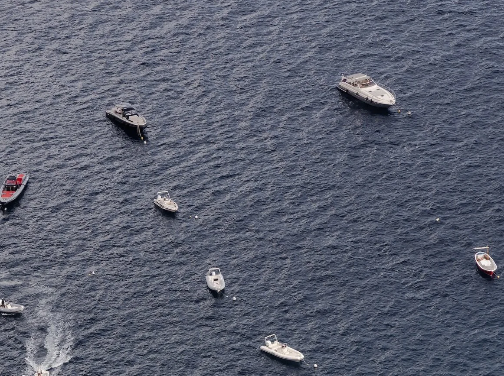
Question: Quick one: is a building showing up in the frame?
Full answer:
No, there isn't any building down there.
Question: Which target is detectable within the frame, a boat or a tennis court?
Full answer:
The image shows a boat.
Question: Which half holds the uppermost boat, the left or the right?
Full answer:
It is on the right.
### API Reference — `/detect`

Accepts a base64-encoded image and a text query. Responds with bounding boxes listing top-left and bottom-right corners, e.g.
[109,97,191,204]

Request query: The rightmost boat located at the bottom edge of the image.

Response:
[258,335,307,364]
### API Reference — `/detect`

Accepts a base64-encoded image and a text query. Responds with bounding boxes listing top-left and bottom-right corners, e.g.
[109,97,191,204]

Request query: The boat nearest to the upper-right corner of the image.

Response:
[340,73,396,109]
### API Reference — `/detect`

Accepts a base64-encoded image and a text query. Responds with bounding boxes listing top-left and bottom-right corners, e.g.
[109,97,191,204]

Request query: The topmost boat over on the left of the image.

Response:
[106,102,145,137]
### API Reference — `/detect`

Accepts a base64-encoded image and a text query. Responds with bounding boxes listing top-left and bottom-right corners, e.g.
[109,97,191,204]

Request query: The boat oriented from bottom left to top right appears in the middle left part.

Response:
[0,172,30,207]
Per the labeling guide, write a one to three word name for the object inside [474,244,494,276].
boat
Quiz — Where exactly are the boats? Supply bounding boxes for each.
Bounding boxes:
[340,73,396,109]
[106,102,145,137]
[152,190,178,211]
[0,172,30,207]
[206,267,227,297]
[258,335,307,364]
[0,301,24,311]
[474,244,494,276]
